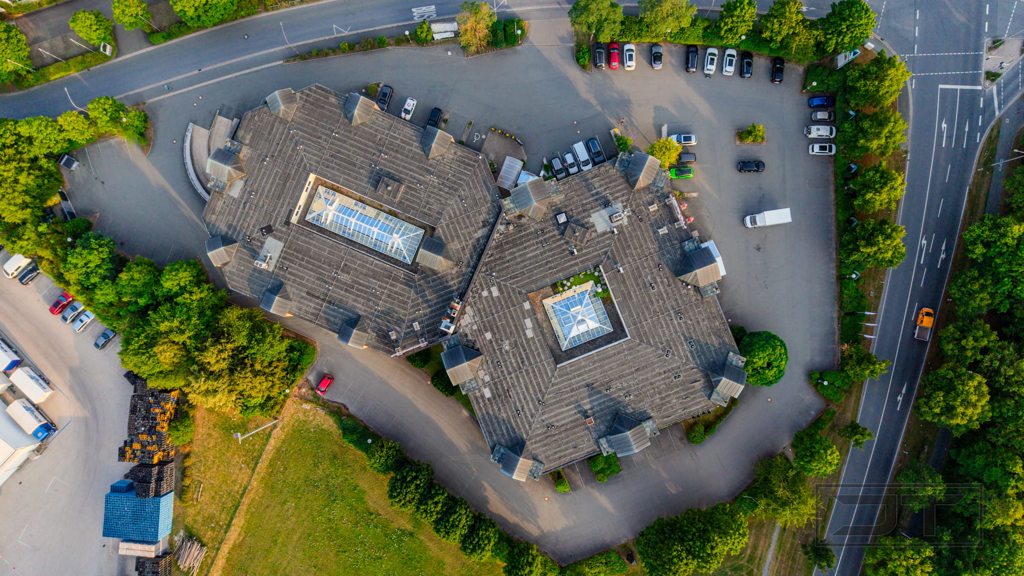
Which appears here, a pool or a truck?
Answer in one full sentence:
Looking from above, you can make out a truck.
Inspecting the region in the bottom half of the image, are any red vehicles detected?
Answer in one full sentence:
Yes, a red vehicle appears in the bottom half of the image.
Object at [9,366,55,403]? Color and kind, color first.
white truck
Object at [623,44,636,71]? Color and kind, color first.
white vehicle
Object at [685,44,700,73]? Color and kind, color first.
black car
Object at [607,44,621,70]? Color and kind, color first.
red car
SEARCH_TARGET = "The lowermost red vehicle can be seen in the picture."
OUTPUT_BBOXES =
[315,372,335,397]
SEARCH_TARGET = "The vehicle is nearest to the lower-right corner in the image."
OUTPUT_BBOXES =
[913,306,937,342]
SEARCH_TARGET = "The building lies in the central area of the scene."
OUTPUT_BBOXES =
[201,82,747,482]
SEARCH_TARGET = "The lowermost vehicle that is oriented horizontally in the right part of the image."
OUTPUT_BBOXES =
[742,208,794,227]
